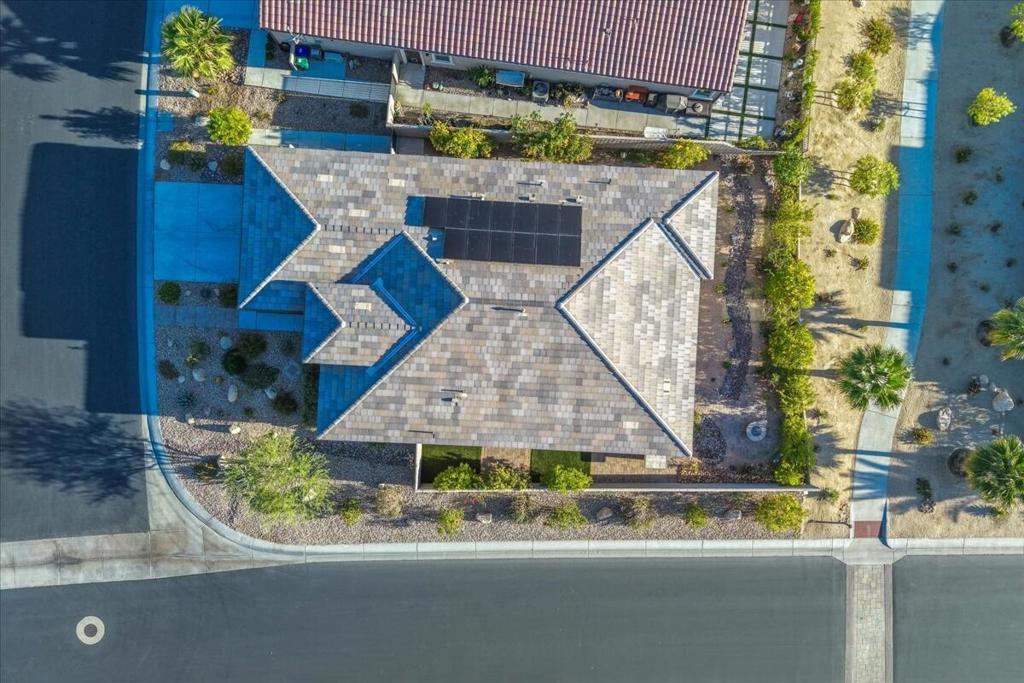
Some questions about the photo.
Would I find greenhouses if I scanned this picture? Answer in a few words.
No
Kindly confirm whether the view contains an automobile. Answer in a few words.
No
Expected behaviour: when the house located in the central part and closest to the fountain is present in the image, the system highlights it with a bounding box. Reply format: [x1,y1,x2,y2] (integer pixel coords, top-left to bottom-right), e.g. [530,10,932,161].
[237,145,720,459]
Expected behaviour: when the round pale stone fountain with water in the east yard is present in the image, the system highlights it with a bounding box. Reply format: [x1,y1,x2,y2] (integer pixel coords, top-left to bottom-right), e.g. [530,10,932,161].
[744,421,767,442]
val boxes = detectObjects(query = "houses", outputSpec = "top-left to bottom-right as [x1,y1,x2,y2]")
[237,145,720,459]
[259,0,750,103]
